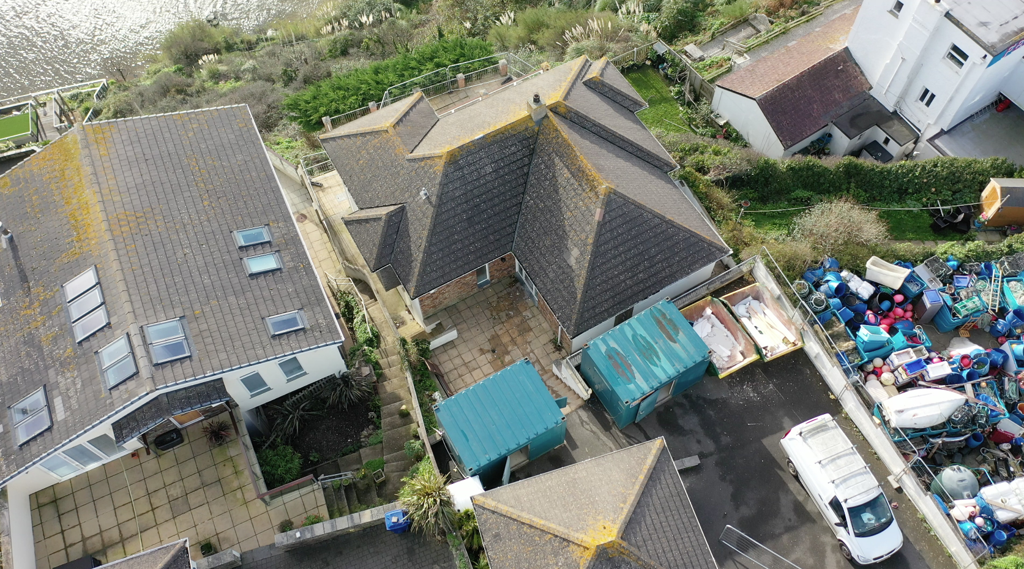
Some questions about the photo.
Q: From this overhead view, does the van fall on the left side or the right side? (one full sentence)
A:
You can find the van on the right side of the picture.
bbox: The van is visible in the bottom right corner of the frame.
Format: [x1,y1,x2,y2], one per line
[782,417,908,569]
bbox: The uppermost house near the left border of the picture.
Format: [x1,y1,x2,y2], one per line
[0,104,351,509]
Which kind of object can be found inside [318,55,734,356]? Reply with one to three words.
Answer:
house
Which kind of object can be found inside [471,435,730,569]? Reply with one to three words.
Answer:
building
